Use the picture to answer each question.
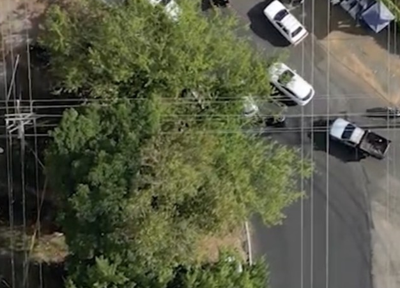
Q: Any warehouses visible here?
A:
No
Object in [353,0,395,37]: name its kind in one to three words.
tent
